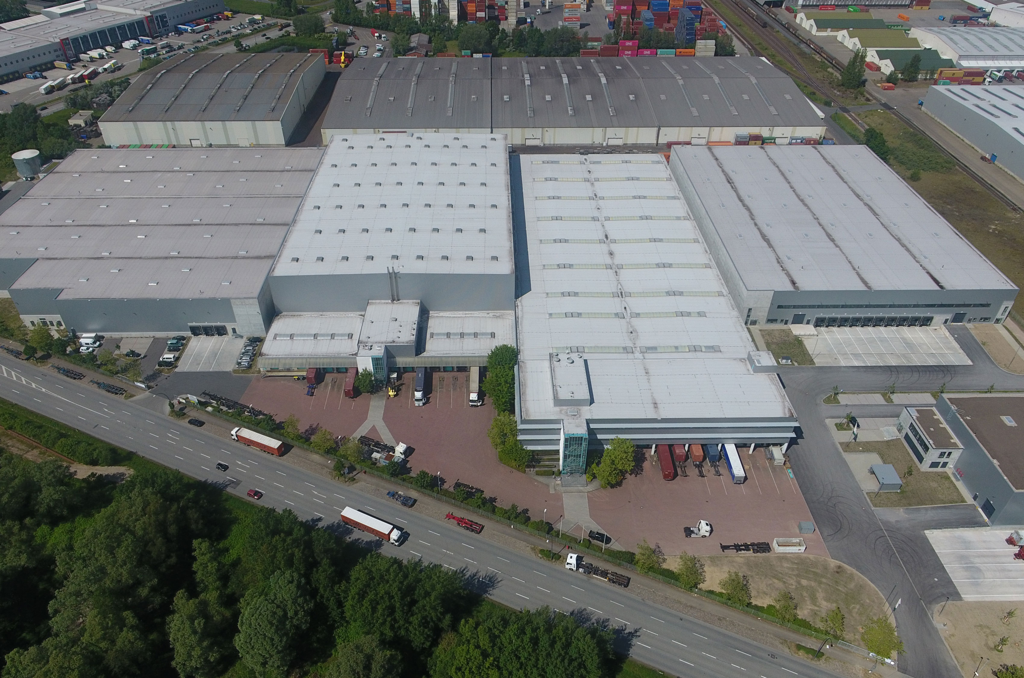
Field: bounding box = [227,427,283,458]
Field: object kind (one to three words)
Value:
truck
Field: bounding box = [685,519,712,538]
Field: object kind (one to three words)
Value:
vehicle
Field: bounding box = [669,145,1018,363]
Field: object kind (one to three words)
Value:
warehouse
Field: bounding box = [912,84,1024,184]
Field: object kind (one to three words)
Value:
building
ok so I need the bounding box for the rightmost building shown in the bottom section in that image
[934,391,1024,524]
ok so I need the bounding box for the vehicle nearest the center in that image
[469,366,482,399]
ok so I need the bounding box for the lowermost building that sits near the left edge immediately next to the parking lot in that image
[0,149,325,337]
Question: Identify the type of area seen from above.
industrial area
